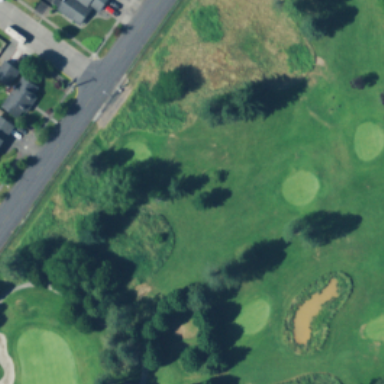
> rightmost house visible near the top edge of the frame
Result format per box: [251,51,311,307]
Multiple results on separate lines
[50,0,98,25]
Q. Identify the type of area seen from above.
golf course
